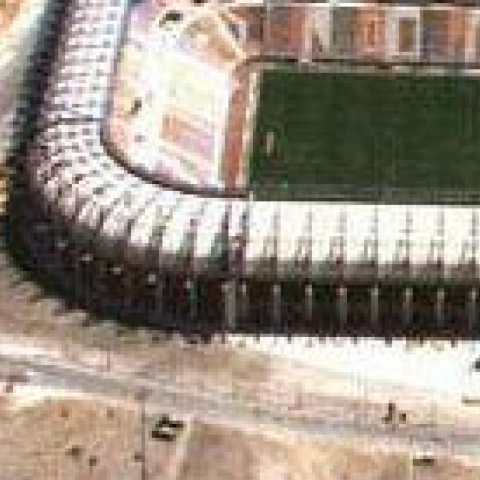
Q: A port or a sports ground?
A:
sports ground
